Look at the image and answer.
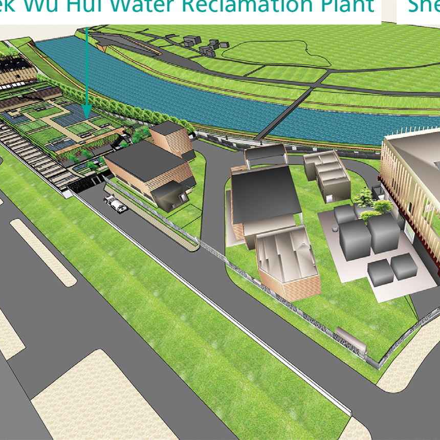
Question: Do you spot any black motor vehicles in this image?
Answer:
No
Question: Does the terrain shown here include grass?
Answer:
Yes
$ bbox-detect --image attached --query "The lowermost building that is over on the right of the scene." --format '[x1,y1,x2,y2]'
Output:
[254,224,321,302]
